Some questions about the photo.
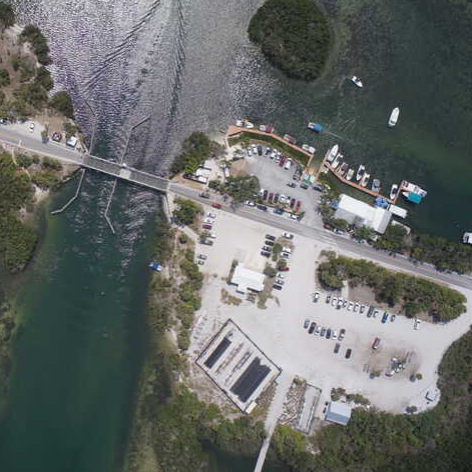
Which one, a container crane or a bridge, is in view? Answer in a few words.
bridge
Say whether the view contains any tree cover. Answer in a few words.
Yes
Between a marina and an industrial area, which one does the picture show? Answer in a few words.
marina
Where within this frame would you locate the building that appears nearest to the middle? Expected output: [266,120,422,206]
[230,264,265,294]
